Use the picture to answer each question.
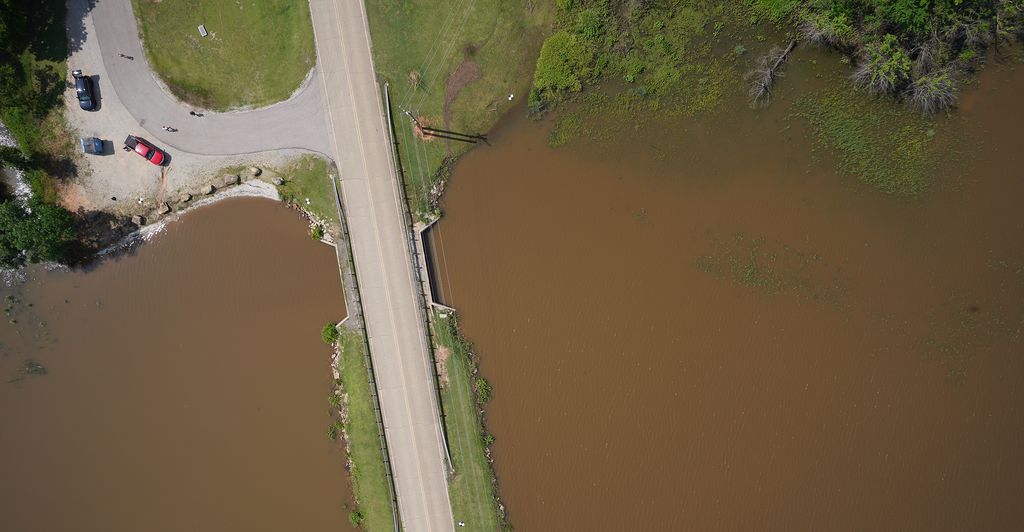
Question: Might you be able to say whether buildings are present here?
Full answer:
No, there isn't any building down there.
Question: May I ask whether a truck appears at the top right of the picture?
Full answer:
No, the scene shows no truck at the top right of the picture.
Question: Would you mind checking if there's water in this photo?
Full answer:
Yes, water shows up in the scene.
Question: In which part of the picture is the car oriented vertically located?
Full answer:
The car oriented vertically sits in the top left section of the image.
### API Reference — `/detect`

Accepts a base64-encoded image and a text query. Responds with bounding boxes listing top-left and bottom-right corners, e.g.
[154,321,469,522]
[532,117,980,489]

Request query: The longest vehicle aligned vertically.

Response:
[72,66,95,111]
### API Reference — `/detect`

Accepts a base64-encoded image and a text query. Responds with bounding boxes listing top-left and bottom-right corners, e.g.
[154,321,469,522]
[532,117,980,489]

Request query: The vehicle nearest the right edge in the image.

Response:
[124,135,167,166]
